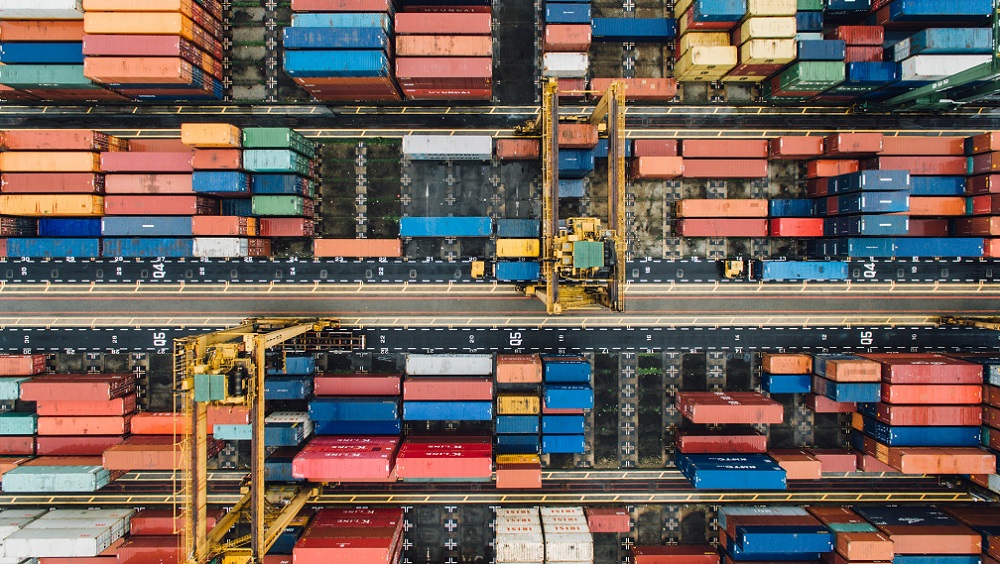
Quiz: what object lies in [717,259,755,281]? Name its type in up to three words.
work vehicle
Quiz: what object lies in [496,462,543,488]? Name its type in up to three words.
shipping container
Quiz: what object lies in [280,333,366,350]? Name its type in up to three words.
trailer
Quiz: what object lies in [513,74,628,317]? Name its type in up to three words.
container crane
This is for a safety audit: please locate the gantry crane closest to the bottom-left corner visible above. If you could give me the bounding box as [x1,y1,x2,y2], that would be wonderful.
[174,315,342,564]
